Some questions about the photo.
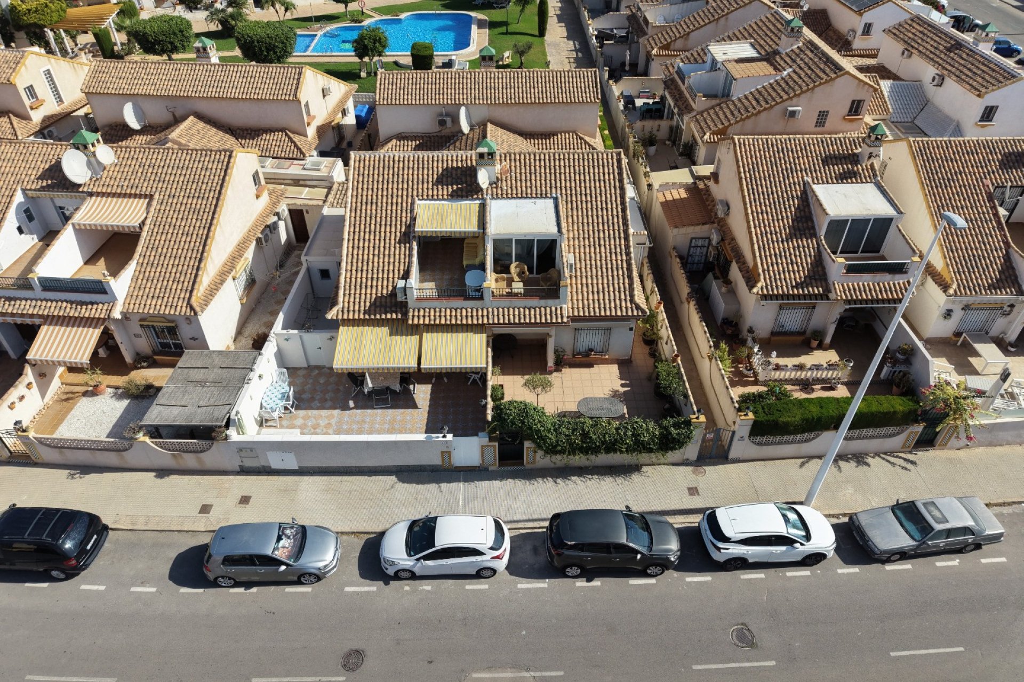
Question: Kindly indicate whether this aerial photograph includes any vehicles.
Yes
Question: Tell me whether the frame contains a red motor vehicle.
No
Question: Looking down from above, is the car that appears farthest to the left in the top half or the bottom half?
bottom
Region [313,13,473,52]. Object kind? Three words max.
swimming pool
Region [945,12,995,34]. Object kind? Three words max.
car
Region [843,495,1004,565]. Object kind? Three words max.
car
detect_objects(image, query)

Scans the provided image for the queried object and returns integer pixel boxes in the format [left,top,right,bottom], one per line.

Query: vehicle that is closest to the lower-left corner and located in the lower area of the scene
[0,507,102,583]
